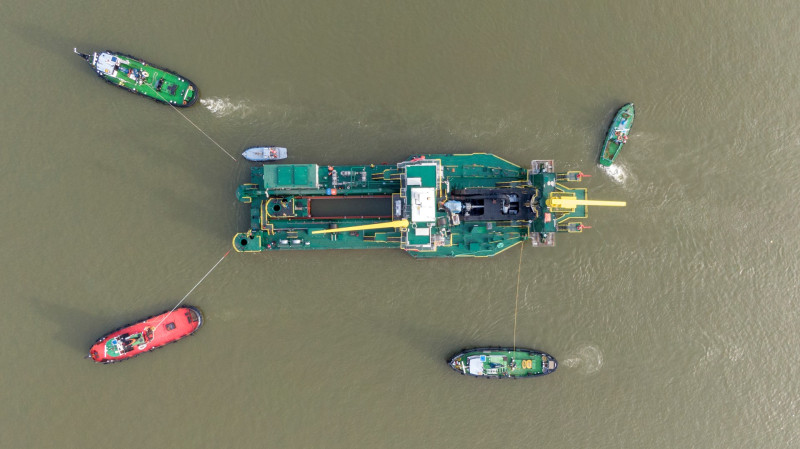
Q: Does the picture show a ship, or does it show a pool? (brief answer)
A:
ship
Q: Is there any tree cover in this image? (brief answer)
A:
No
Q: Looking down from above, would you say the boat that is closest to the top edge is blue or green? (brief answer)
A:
green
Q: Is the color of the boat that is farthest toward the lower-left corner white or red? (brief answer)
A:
red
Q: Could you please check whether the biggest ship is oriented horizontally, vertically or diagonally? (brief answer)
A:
horizontally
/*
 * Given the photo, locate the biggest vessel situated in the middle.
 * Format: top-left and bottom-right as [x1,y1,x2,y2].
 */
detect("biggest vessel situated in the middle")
[233,152,627,258]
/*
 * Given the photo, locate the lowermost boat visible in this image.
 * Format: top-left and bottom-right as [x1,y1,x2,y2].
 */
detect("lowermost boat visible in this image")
[447,346,559,380]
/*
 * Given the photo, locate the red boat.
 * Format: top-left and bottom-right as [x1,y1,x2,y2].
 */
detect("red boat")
[84,308,205,363]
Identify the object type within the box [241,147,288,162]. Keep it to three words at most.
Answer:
boat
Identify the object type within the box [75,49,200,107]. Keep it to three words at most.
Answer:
boat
